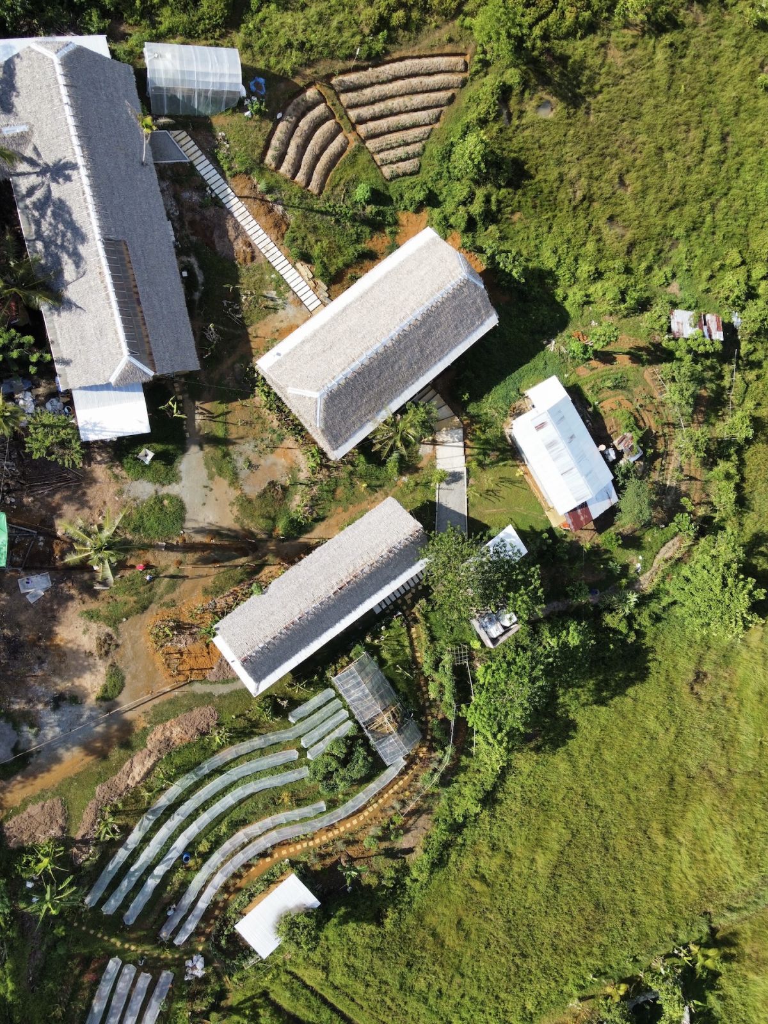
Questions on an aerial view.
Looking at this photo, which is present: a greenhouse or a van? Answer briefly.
greenhouse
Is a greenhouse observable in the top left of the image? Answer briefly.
Yes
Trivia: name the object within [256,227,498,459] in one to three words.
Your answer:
house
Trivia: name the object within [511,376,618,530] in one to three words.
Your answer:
house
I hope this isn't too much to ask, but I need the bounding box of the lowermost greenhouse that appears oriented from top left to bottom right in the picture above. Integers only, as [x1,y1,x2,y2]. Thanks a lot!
[332,647,422,766]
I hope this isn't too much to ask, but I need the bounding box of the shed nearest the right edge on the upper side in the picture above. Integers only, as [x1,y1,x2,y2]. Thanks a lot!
[662,310,724,344]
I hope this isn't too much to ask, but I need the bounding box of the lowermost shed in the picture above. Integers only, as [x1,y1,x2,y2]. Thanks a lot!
[236,859,321,969]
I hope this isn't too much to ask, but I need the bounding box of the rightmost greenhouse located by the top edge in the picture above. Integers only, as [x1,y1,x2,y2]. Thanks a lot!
[141,44,244,114]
